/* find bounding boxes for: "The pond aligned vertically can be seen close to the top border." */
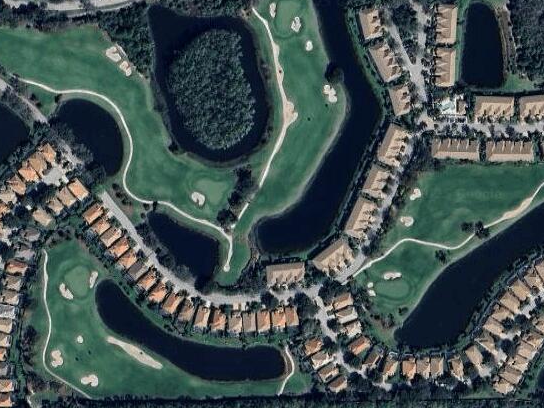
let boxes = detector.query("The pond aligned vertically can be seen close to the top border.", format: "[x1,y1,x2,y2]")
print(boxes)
[462,1,504,89]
